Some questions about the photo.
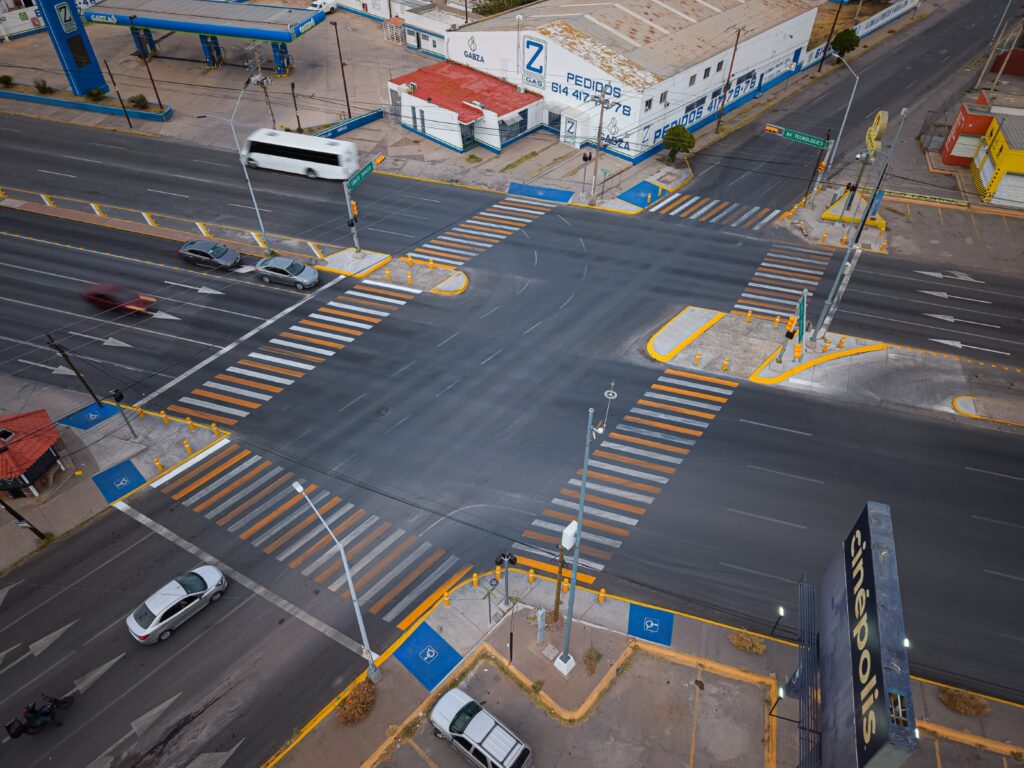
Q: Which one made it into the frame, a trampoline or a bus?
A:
bus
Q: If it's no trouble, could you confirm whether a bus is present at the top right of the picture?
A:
No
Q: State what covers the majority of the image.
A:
paved ground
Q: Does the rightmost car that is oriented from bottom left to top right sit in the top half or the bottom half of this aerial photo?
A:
bottom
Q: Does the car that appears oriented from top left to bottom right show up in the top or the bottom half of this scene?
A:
bottom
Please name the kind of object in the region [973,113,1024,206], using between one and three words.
building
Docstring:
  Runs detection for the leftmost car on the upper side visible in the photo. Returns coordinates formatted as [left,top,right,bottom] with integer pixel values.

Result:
[89,281,151,316]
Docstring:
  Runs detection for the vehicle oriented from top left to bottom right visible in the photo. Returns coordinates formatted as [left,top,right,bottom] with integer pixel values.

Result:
[430,690,538,768]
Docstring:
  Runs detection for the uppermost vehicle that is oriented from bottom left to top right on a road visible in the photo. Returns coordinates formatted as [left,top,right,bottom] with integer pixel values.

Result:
[124,564,226,647]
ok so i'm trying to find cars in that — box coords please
[183,239,245,269]
[89,281,151,316]
[430,690,538,768]
[255,257,319,289]
[124,564,226,647]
